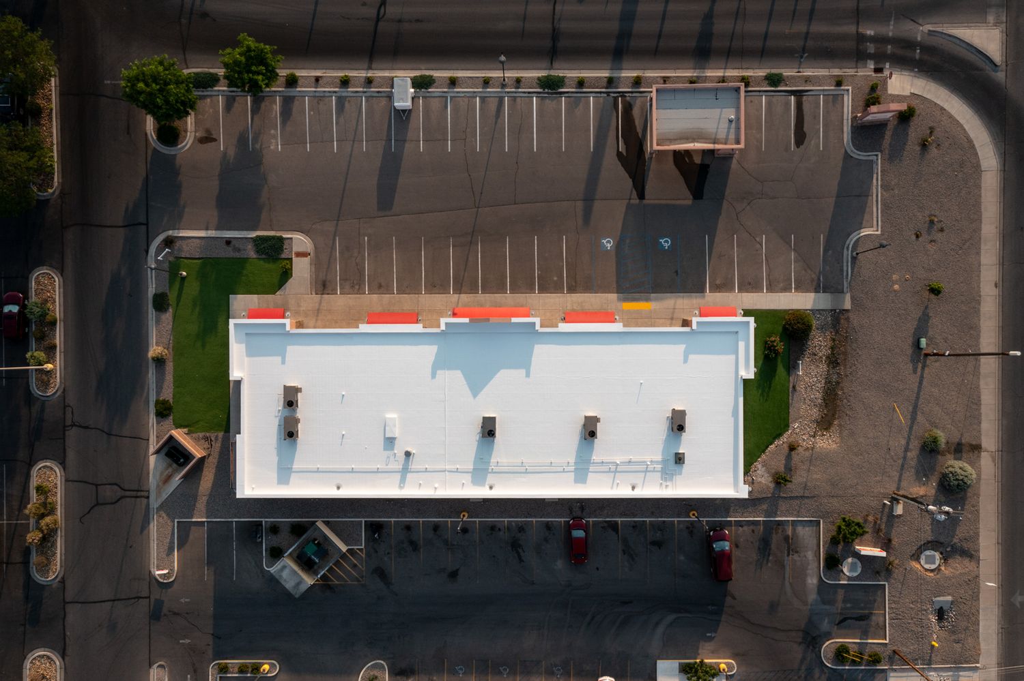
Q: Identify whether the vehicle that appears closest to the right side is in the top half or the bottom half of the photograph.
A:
bottom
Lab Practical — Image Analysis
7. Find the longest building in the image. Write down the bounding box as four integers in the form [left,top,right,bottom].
[229,306,757,501]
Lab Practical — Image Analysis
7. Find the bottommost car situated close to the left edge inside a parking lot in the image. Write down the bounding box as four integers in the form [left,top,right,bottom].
[1,292,27,341]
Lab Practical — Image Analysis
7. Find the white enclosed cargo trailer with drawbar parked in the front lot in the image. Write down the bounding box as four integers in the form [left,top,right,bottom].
[393,79,417,124]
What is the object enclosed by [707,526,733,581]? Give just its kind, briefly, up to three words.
vehicle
